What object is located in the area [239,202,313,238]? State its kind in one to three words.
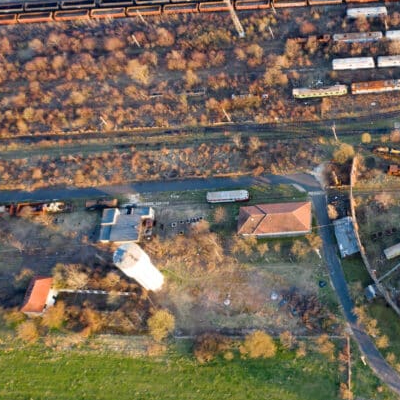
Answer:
house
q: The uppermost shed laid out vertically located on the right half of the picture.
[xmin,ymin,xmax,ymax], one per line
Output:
[334,216,359,261]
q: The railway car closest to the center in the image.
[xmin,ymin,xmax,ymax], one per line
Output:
[208,192,252,207]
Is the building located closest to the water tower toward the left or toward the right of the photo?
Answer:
left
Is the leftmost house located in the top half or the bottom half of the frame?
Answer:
bottom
